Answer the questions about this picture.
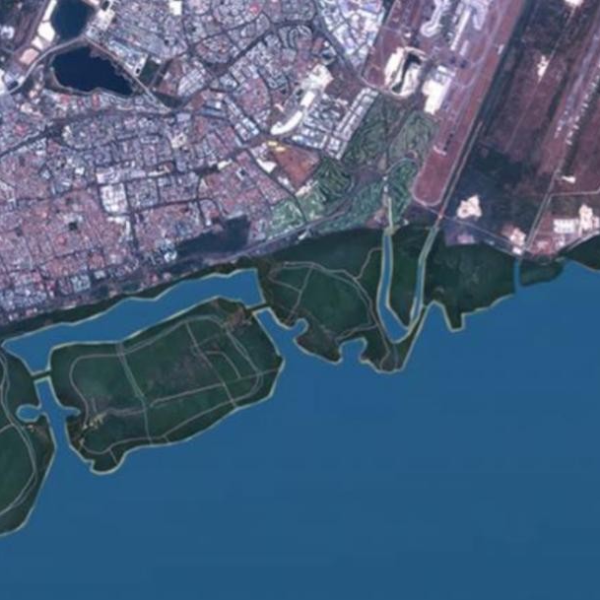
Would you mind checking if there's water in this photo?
Yes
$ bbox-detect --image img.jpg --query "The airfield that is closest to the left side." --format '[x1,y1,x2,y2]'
[361,0,525,209]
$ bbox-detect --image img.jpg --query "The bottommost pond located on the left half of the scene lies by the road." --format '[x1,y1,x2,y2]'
[51,46,132,95]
